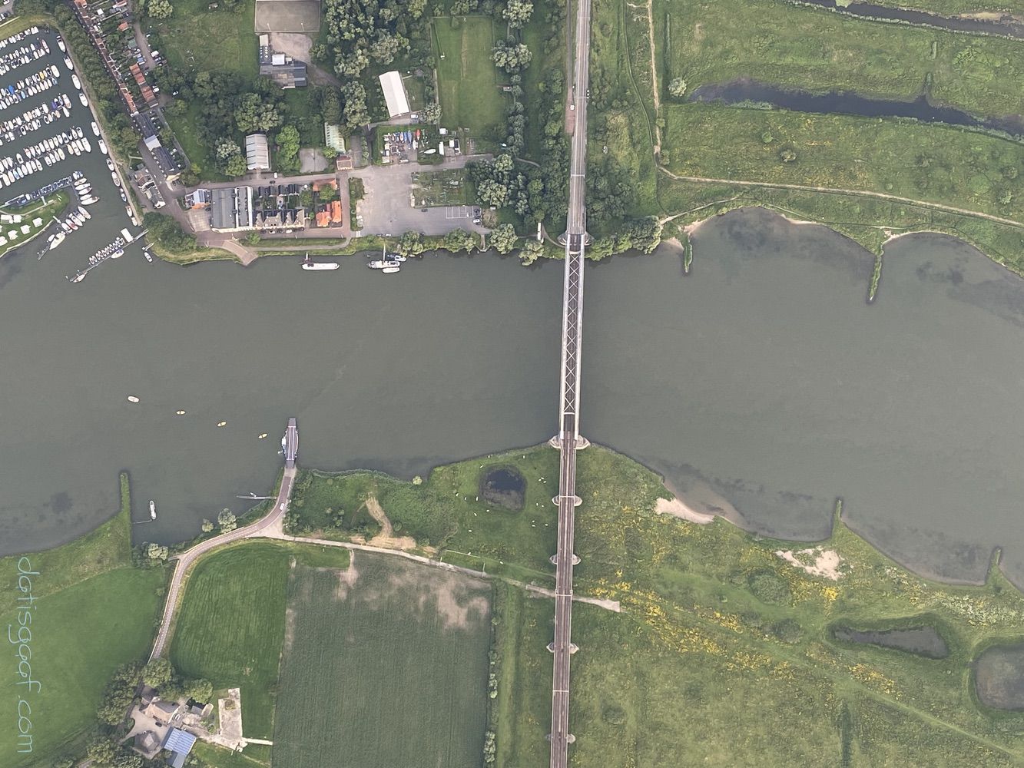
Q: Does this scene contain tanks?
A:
No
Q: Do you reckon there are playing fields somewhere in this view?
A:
Yes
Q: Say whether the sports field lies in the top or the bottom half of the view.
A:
top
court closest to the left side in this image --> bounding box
[300,148,328,173]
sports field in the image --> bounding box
[435,17,505,132]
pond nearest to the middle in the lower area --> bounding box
[481,466,525,510]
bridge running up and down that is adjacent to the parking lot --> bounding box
[544,232,593,768]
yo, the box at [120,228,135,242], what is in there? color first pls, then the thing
white boat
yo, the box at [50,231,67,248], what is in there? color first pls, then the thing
white boat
